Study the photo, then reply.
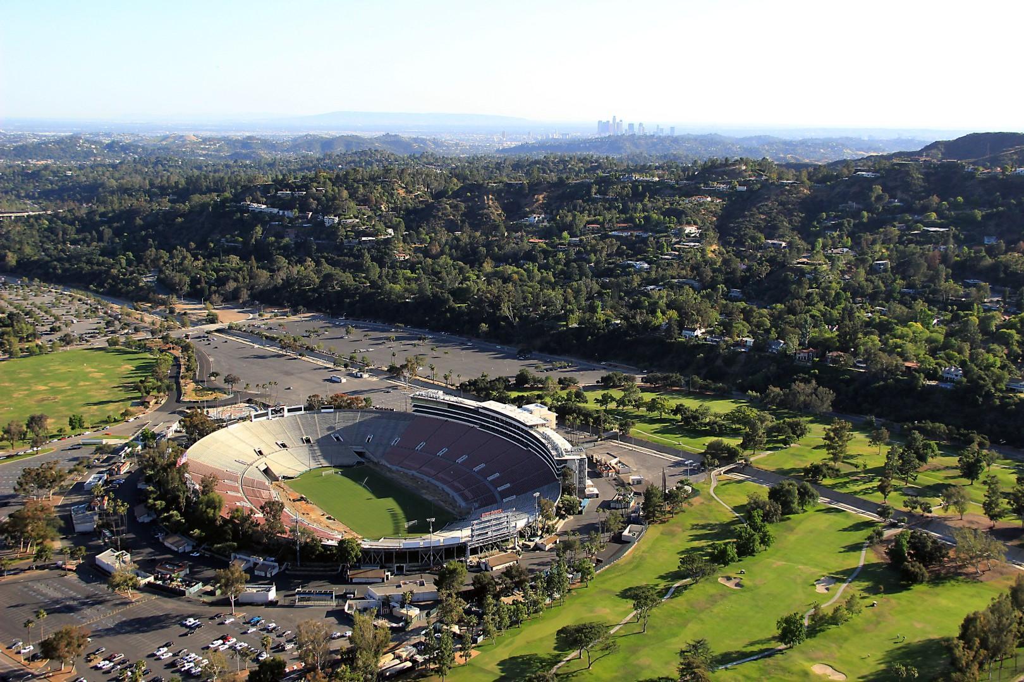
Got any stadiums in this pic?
Yes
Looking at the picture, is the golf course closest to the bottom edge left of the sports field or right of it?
on its right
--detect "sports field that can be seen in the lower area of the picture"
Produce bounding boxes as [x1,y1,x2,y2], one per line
[284,467,452,539]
